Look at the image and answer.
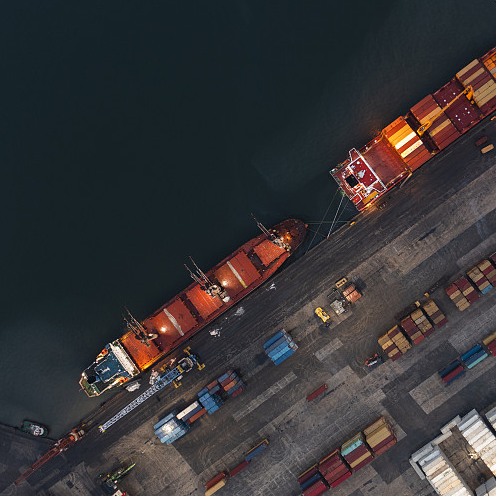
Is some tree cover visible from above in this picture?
No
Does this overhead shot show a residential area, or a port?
port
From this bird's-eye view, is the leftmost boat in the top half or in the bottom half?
bottom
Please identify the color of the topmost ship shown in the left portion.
red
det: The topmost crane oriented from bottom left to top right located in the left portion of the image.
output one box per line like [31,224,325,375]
[97,341,209,434]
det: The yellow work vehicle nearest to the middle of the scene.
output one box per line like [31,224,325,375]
[315,304,335,329]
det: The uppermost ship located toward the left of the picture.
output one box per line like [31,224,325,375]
[77,213,307,398]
